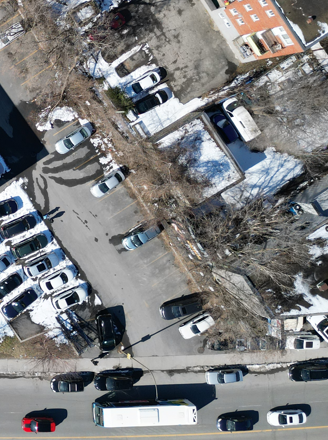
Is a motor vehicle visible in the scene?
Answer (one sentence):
Yes, looking at the shot, I can spot a motor vehicle.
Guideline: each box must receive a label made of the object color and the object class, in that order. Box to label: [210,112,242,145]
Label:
black car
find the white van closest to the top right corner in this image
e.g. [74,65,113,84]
[220,99,264,142]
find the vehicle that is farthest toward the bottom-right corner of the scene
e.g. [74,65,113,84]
[266,408,307,429]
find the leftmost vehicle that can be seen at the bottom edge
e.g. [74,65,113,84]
[22,415,57,435]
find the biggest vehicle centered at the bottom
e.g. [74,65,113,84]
[85,395,198,426]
